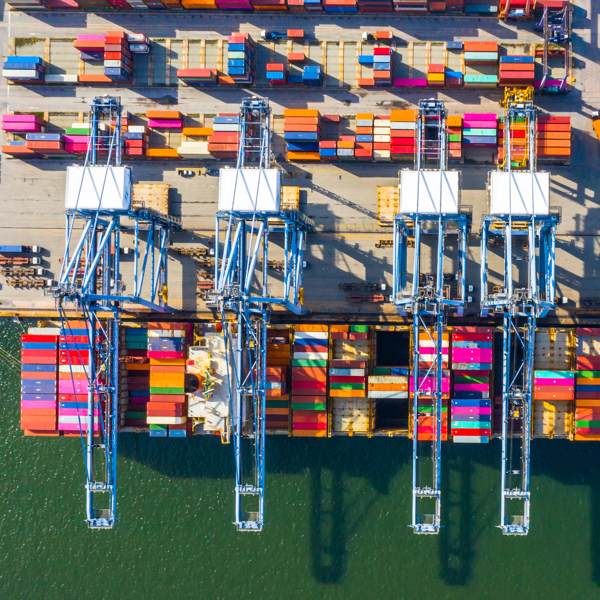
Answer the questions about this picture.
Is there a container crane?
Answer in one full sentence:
Yes, there's a container crane here.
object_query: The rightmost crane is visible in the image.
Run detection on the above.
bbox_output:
[533,6,570,97]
